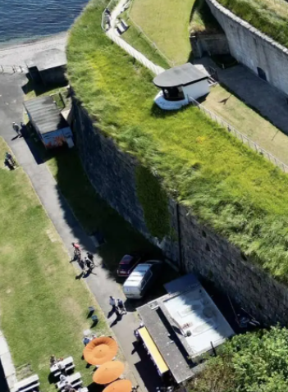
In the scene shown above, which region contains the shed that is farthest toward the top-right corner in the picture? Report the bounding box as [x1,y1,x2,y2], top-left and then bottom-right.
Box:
[154,63,213,111]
